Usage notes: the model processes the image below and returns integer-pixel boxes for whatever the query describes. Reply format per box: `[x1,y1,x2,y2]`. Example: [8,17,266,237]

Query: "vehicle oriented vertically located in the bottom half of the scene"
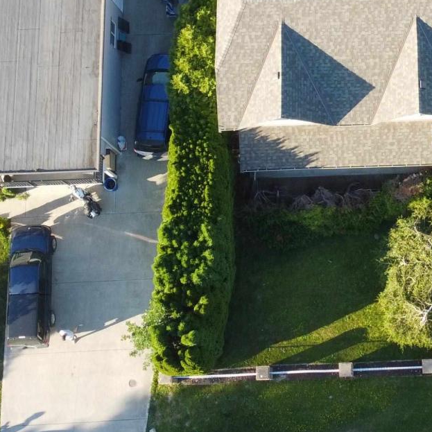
[2,223,60,354]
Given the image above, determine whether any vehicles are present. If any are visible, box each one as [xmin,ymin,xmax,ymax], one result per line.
[73,187,106,224]
[135,54,183,166]
[2,223,60,354]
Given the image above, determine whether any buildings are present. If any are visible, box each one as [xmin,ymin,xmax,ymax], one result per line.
[0,0,127,192]
[213,0,432,178]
